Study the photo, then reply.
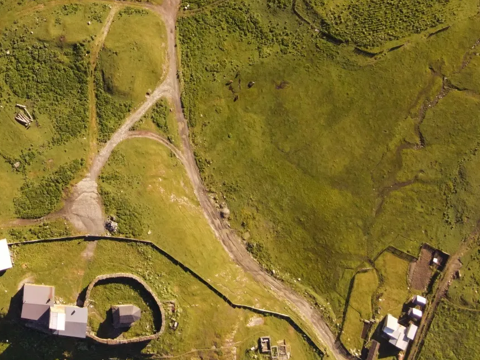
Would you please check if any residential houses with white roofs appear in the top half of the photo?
No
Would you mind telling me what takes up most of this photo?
grass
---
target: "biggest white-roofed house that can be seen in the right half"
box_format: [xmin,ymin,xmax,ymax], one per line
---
[377,307,409,349]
